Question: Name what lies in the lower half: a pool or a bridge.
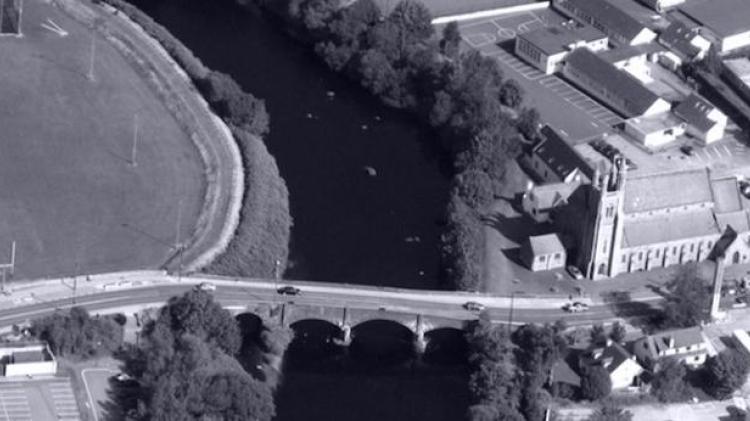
bridge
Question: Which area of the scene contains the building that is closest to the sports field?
bottom left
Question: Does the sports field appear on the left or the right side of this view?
left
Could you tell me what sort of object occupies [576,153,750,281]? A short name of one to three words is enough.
church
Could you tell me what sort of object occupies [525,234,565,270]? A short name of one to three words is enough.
house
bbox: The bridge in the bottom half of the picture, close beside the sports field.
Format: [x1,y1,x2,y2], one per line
[223,269,501,354]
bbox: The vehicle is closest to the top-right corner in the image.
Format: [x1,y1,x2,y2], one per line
[676,141,698,154]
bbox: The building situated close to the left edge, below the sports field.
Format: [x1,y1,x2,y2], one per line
[0,341,59,376]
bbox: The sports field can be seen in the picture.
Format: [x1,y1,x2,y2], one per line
[0,0,195,283]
